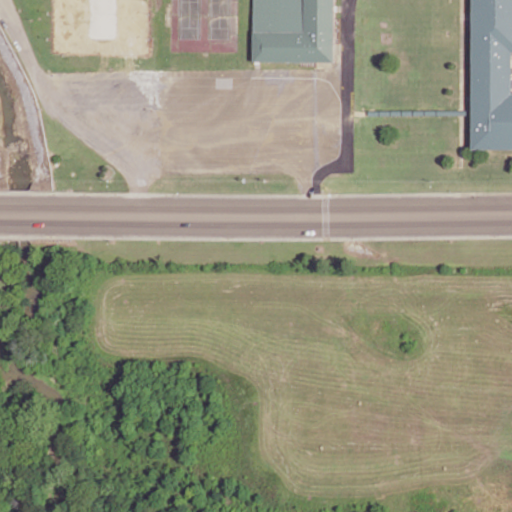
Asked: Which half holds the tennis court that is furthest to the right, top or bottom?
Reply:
top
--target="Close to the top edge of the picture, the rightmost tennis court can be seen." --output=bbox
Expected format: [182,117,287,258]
[206,0,238,52]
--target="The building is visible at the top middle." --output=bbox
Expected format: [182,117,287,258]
[252,0,334,62]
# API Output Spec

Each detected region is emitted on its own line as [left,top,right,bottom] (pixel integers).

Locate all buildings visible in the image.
[470,0,512,150]
[252,0,334,62]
